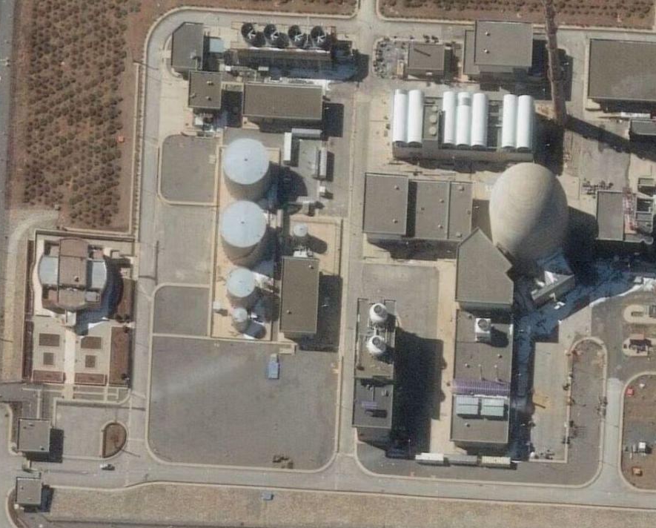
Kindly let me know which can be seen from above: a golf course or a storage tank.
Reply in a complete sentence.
Visible in the photo is a storage tank.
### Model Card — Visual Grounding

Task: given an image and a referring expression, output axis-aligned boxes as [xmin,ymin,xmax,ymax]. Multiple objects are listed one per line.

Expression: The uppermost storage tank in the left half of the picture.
[223,137,274,202]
